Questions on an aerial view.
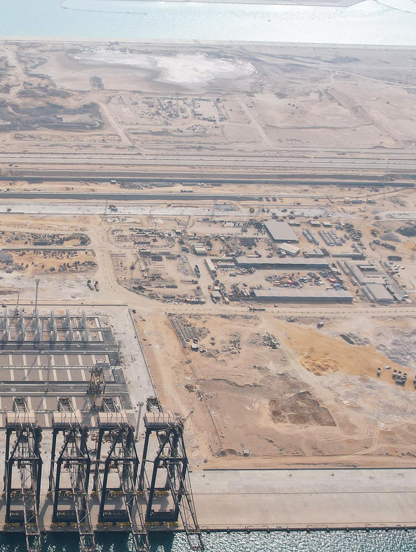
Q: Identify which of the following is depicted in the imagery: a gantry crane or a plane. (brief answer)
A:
gantry crane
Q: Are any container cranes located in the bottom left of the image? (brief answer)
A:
Yes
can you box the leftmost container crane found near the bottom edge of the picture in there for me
[2,395,45,552]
